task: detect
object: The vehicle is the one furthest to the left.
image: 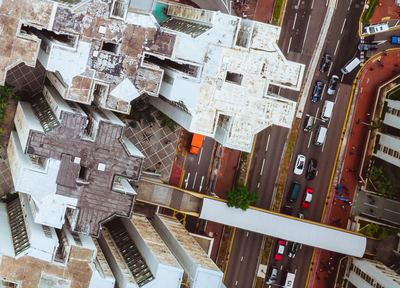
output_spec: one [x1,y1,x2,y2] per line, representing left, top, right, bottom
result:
[189,132,205,154]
